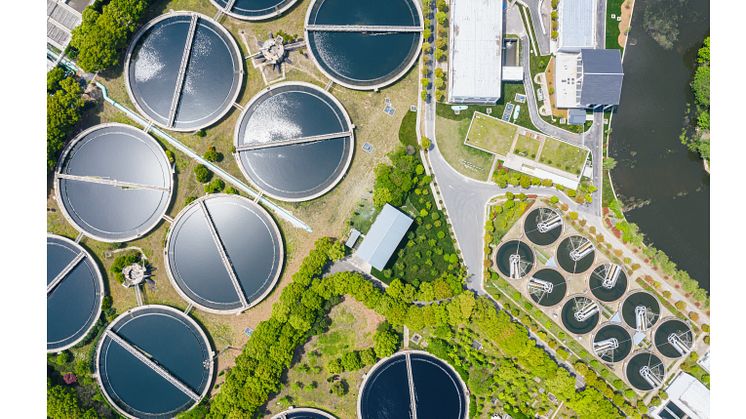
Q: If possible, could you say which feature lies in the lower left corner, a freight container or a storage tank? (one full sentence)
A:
The feature located in the lower left corner is a storage tank.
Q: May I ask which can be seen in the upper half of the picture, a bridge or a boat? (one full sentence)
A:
There is a bridge in the upper half of the picture.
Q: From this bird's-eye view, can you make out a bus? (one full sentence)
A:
No, the photo shows no bus.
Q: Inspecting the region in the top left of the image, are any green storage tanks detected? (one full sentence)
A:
No, no green storage tank appears in the top left of the image.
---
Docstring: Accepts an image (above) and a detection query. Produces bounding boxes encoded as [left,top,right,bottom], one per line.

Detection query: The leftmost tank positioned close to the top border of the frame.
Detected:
[124,11,245,132]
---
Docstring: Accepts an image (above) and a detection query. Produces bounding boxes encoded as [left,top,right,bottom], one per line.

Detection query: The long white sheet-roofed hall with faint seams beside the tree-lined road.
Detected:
[449,0,501,101]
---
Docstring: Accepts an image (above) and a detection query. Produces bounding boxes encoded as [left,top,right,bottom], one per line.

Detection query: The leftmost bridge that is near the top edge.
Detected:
[166,11,200,130]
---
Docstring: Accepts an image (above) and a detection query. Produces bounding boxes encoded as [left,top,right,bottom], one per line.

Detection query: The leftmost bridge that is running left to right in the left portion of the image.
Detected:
[52,173,175,192]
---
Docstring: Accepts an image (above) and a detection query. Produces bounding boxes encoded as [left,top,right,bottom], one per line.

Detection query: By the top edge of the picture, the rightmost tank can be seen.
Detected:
[303,0,425,91]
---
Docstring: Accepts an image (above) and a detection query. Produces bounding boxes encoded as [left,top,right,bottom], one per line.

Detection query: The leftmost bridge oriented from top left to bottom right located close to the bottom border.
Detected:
[105,325,205,404]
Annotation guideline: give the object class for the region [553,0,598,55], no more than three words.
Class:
building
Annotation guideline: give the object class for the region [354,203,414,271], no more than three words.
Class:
shed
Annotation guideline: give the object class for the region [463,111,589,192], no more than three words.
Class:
building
